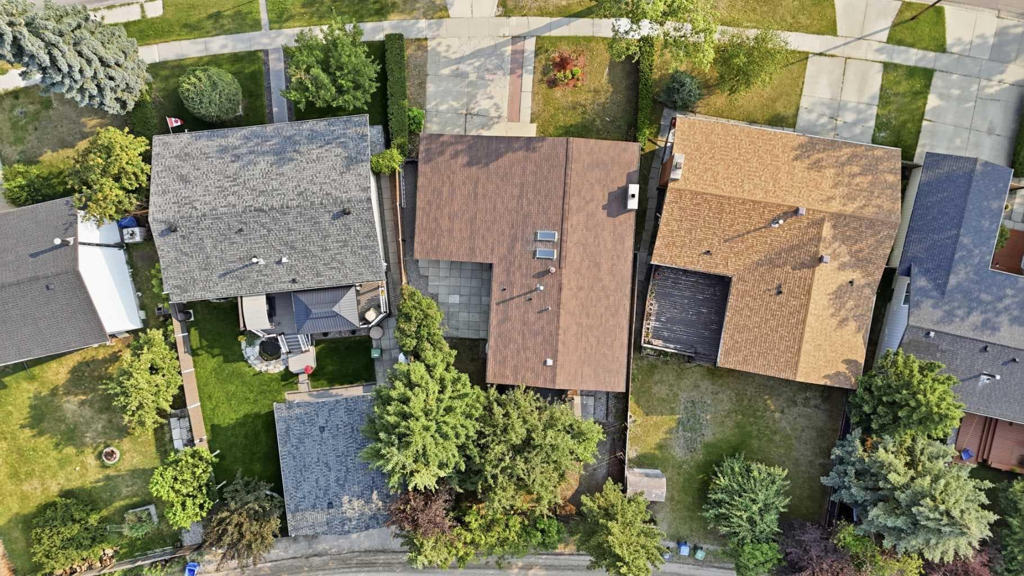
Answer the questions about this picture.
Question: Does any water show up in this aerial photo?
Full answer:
No, there is no water in the image.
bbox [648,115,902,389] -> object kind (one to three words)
house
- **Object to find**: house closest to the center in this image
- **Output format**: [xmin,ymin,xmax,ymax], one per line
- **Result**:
[413,132,642,392]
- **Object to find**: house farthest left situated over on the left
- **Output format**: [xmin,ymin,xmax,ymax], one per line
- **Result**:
[0,196,141,367]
